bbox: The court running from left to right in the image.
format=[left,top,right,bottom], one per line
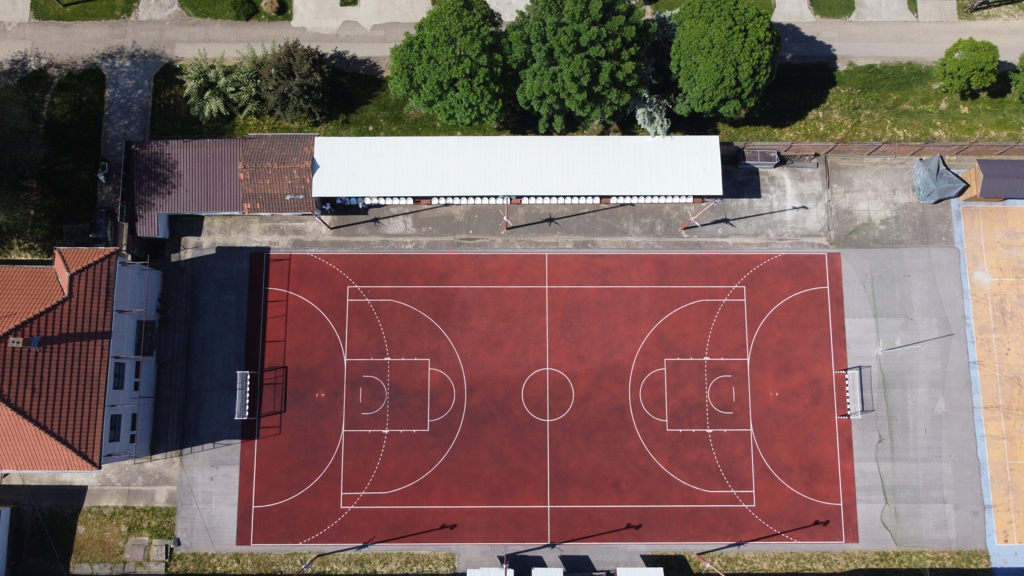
[236,251,860,546]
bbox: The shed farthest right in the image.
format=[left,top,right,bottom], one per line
[959,159,1024,200]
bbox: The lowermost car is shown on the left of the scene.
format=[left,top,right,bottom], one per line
[90,216,120,247]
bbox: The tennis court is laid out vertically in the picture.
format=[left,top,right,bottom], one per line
[952,171,1024,576]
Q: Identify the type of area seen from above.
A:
sports ground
